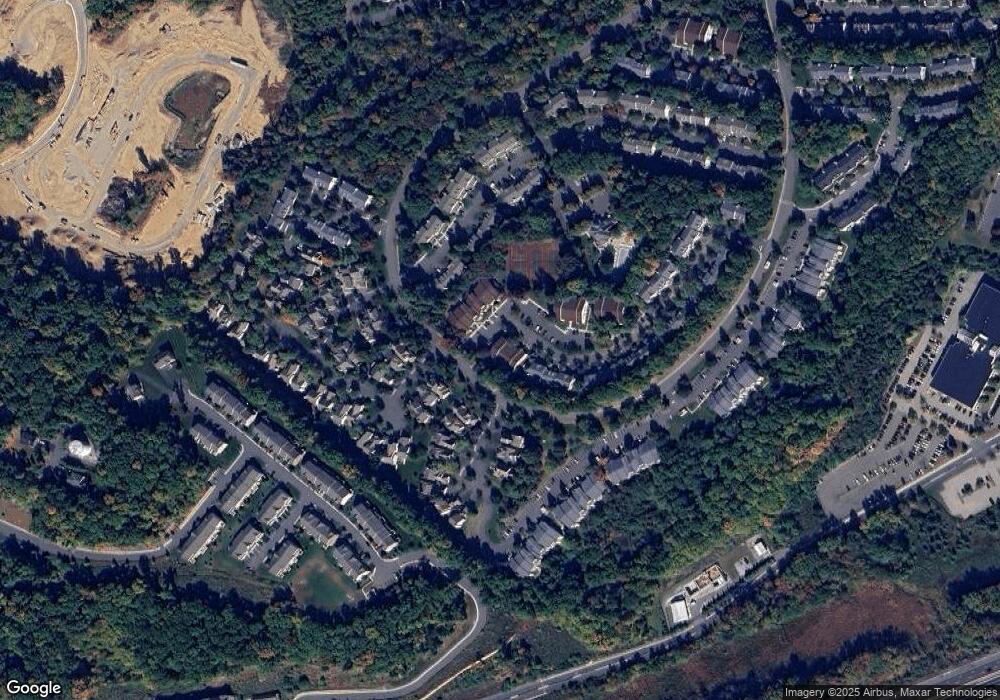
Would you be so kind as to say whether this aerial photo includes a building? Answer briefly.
Yes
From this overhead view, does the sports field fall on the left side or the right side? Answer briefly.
left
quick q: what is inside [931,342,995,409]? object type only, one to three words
building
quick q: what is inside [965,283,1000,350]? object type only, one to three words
building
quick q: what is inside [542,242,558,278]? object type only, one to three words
tennis court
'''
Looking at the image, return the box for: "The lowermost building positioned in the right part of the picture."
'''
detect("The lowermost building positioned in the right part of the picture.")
[671,599,691,623]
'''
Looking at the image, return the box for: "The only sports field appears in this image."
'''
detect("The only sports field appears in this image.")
[291,551,359,608]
